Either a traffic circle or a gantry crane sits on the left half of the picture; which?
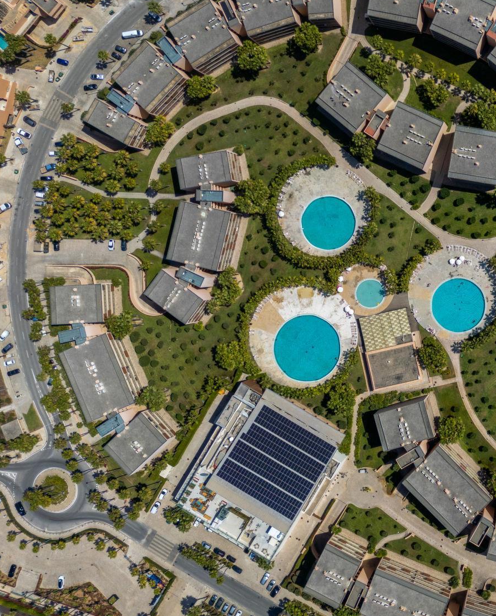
traffic circle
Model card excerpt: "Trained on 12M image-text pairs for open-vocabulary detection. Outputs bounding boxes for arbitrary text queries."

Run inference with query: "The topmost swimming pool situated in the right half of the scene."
[275,164,372,256]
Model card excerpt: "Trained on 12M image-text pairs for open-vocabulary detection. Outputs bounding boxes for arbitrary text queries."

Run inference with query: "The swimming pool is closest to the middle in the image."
[249,286,357,387]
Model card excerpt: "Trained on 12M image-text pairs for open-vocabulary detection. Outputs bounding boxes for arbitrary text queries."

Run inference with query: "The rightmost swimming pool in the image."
[408,246,496,341]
